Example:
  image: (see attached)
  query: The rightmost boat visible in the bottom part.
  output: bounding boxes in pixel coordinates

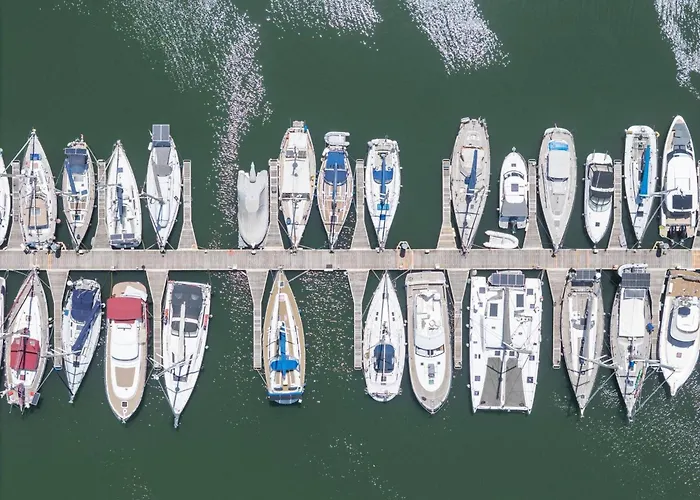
[653,269,700,400]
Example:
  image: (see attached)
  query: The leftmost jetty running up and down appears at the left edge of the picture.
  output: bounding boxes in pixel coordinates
[6,159,25,249]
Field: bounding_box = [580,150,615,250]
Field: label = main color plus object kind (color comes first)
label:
white boat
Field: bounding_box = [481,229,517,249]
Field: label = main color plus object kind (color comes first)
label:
white boat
